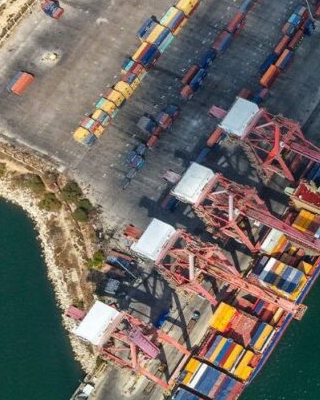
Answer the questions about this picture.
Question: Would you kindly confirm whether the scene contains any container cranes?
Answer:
Yes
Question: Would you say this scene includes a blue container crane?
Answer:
No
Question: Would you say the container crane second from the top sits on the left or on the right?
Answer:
right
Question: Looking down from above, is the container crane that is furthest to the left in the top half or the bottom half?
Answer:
bottom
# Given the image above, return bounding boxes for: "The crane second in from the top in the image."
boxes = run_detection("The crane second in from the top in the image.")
[163,160,320,253]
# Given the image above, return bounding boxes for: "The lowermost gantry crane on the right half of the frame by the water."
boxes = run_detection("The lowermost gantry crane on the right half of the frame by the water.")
[122,217,309,321]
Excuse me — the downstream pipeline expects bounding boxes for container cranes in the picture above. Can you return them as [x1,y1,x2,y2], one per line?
[209,95,320,189]
[122,217,309,321]
[63,299,193,389]
[163,160,320,253]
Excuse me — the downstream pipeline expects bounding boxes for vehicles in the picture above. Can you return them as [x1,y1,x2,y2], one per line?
[185,311,200,333]
[138,382,154,399]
